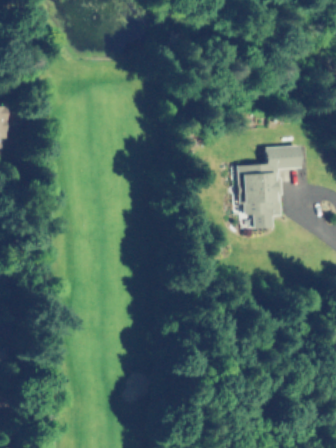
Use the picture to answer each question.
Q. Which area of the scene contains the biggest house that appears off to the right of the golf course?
right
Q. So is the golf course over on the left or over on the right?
left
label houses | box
[237,145,304,230]
[0,106,9,153]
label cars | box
[291,170,298,184]
[314,202,322,217]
